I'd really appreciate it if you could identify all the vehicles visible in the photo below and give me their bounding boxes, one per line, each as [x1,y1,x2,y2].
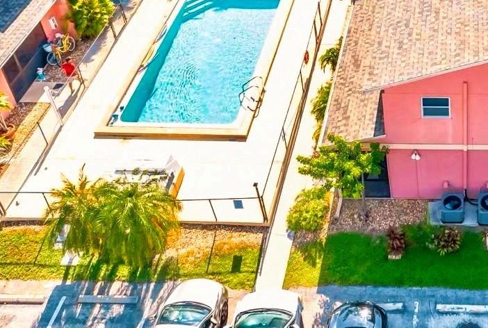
[320,297,400,328]
[225,288,309,328]
[135,281,227,328]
